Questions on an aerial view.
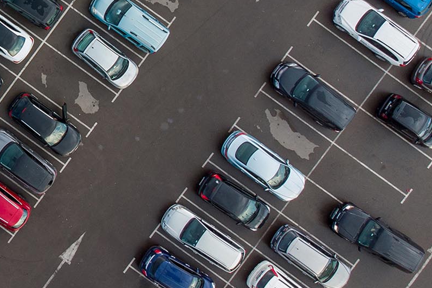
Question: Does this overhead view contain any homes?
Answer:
No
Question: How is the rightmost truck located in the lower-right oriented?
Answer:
diagonally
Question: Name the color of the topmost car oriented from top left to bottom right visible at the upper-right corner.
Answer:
white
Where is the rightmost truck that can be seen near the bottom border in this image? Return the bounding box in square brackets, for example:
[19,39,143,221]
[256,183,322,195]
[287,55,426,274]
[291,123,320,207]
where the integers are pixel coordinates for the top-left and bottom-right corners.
[323,195,427,277]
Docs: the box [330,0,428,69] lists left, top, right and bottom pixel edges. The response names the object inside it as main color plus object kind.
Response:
white car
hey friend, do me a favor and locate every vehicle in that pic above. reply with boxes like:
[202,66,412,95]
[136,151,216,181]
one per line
[68,25,139,91]
[218,130,305,204]
[267,60,362,135]
[137,244,214,288]
[242,257,303,288]
[407,56,432,99]
[0,0,66,33]
[87,0,175,58]
[0,13,36,66]
[323,195,427,277]
[194,169,270,234]
[0,127,61,200]
[330,0,428,69]
[0,181,35,236]
[267,221,352,288]
[4,88,83,158]
[159,202,250,279]
[371,90,432,152]
[381,0,432,20]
